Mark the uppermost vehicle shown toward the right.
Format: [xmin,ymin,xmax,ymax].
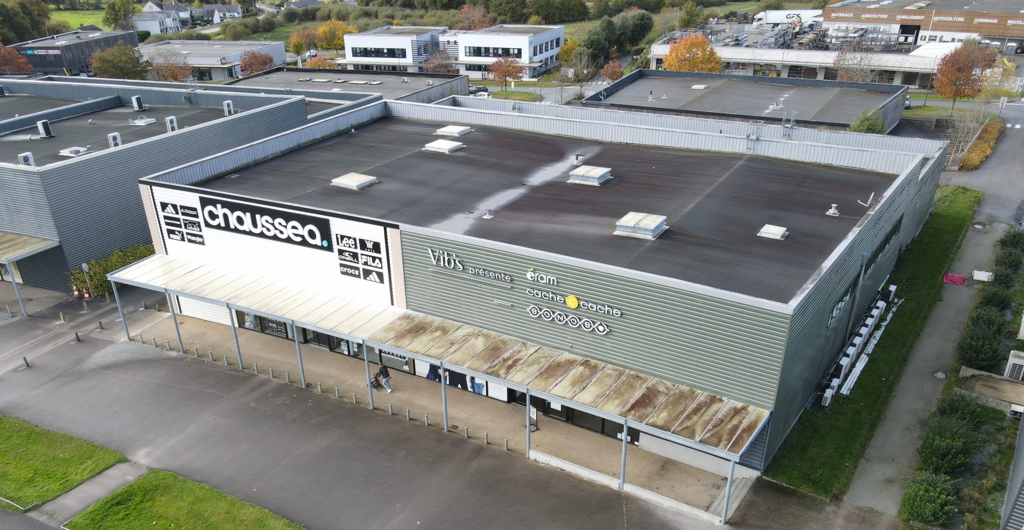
[757,10,824,27]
